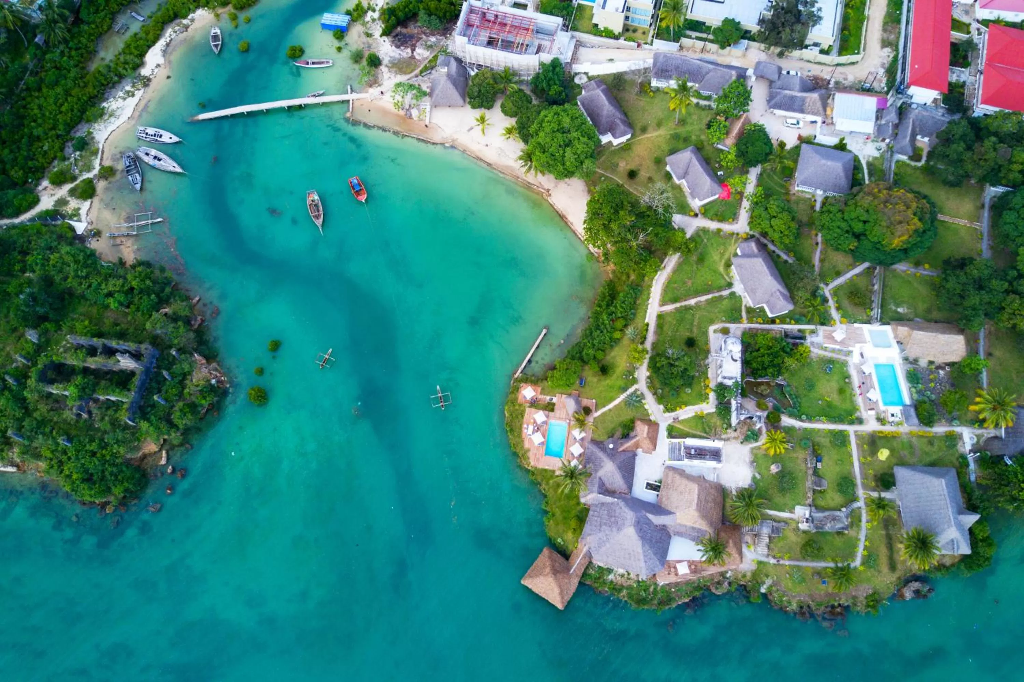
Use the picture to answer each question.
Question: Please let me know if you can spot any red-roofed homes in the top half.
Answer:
Yes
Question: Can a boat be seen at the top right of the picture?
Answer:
No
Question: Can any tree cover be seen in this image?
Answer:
Yes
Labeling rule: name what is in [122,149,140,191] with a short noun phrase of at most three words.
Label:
boat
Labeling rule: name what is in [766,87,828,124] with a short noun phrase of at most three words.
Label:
house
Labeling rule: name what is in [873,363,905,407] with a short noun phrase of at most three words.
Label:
swimming pool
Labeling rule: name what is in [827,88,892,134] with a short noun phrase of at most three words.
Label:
shed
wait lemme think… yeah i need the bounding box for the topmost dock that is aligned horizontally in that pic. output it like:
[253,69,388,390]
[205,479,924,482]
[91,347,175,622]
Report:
[191,94,369,125]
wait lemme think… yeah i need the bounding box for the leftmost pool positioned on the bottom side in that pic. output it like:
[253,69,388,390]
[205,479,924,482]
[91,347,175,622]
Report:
[543,420,570,459]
